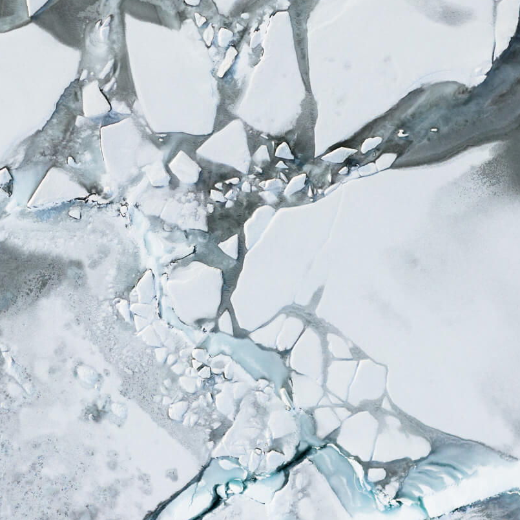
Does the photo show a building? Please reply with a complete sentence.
No, no building can be seen from above.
